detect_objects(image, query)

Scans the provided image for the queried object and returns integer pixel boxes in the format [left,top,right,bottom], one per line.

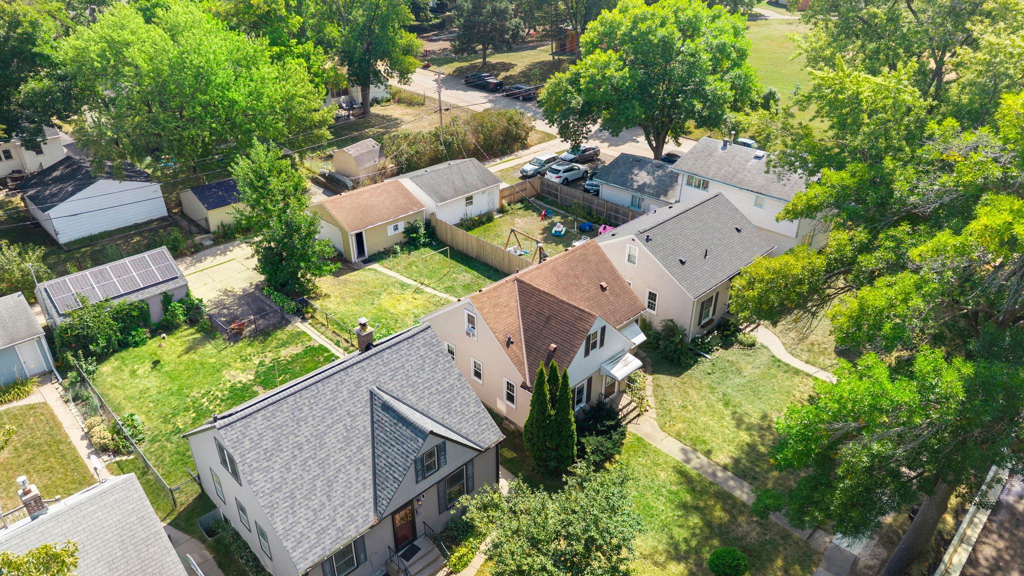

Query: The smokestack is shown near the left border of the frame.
[16,477,50,523]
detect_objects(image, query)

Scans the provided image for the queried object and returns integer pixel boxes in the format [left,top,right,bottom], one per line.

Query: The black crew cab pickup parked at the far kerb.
[464,70,504,91]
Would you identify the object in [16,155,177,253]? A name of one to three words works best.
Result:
building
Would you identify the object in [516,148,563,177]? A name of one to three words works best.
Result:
car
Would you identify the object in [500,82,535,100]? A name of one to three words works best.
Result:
car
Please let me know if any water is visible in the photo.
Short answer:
No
